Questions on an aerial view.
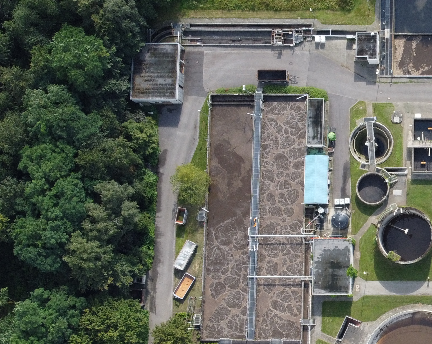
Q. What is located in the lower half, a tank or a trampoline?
tank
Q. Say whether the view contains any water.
Yes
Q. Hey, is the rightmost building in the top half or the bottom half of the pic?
top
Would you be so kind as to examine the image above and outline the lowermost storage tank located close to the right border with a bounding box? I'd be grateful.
[376,206,432,266]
